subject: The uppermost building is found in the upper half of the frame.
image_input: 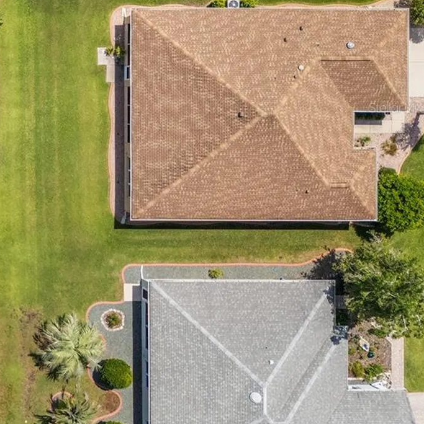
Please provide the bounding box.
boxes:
[125,5,411,222]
